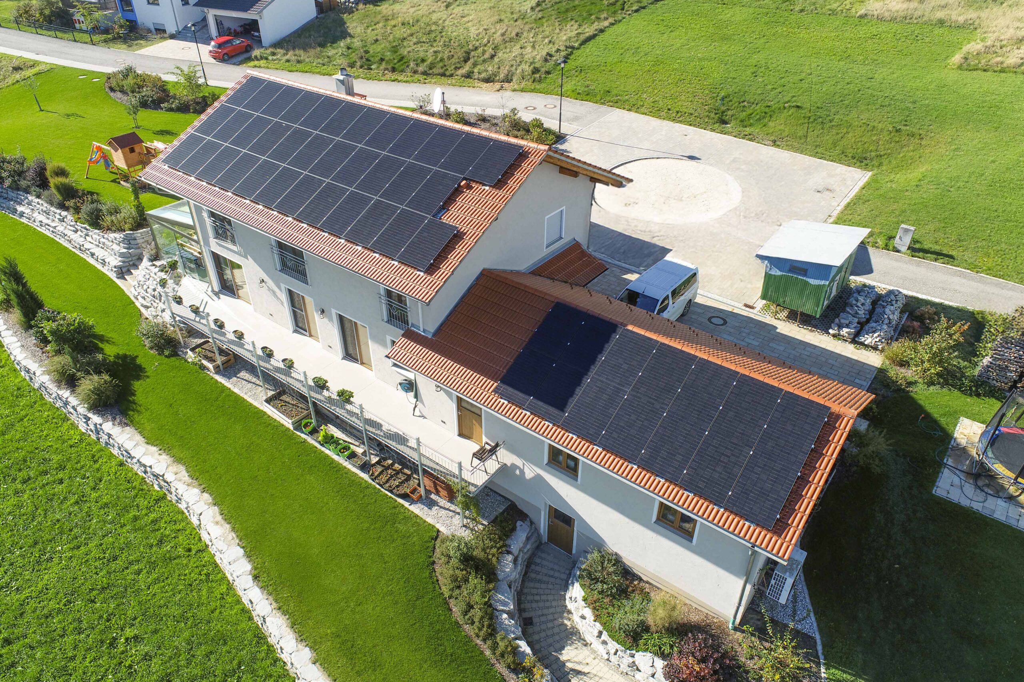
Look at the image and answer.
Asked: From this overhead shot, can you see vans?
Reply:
Yes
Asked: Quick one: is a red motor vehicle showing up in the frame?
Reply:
Yes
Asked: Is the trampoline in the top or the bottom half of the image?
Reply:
bottom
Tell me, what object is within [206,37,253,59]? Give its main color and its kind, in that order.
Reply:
red car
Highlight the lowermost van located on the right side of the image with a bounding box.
[622,258,701,319]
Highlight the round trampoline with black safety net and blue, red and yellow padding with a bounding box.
[971,384,1024,507]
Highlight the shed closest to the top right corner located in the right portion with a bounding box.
[752,225,869,323]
